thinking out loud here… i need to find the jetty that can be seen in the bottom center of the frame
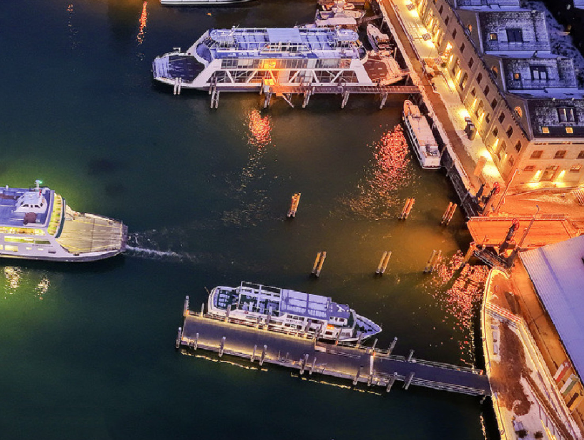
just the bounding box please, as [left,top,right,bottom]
[179,305,484,395]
